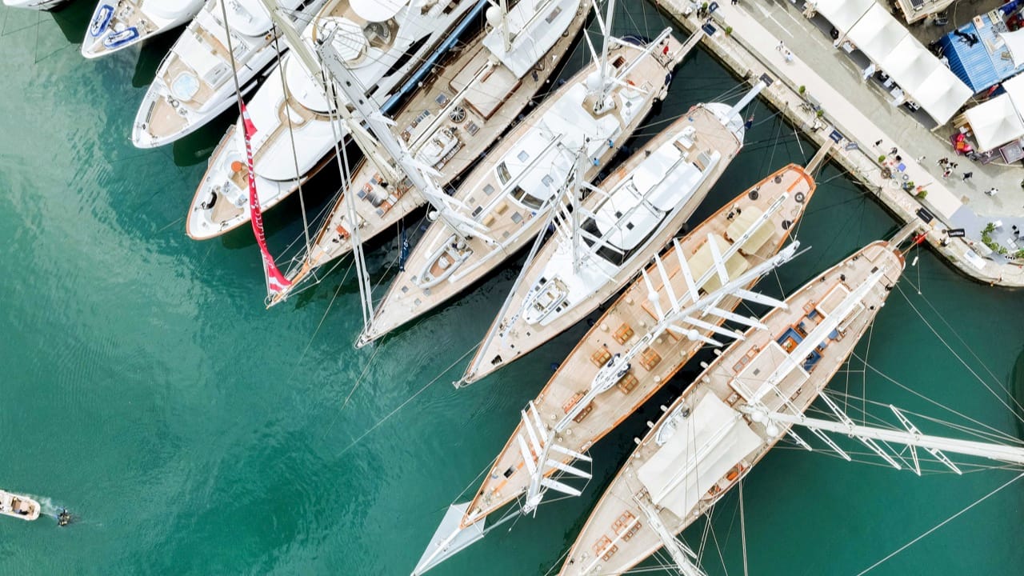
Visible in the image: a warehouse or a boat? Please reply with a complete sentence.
I can see a boat in this picture.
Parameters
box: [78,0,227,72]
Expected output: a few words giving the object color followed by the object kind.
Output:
white boat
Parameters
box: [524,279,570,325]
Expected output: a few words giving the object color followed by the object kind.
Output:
white boat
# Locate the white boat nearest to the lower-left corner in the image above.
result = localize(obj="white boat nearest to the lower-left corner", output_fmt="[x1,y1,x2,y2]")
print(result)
[0,488,43,523]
